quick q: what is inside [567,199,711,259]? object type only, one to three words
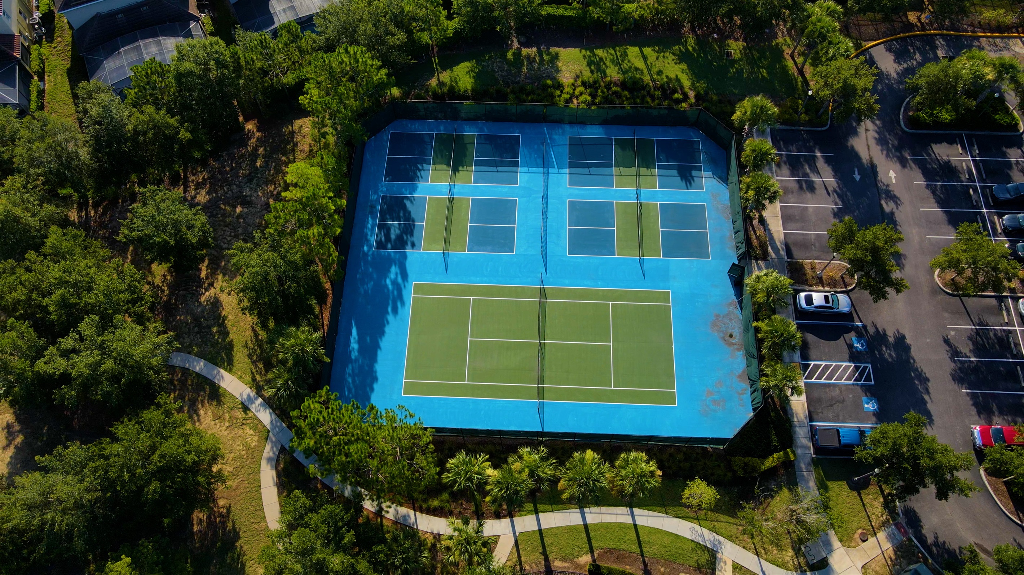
sports court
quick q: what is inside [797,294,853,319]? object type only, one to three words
car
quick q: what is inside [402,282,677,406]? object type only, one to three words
tennis court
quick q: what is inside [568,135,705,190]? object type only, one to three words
sports court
